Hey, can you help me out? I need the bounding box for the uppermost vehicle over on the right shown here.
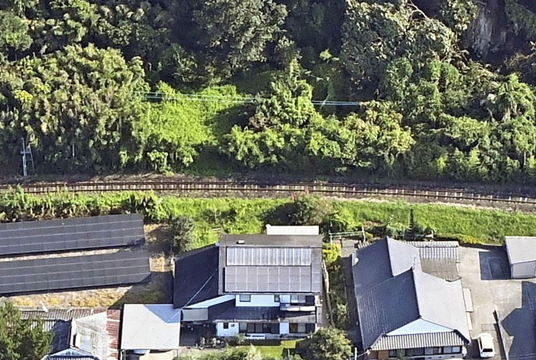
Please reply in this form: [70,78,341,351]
[477,328,495,357]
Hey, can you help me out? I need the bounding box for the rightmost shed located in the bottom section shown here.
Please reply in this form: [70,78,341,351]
[506,236,536,278]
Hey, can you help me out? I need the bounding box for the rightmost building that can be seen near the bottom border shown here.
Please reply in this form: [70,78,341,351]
[351,236,473,359]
